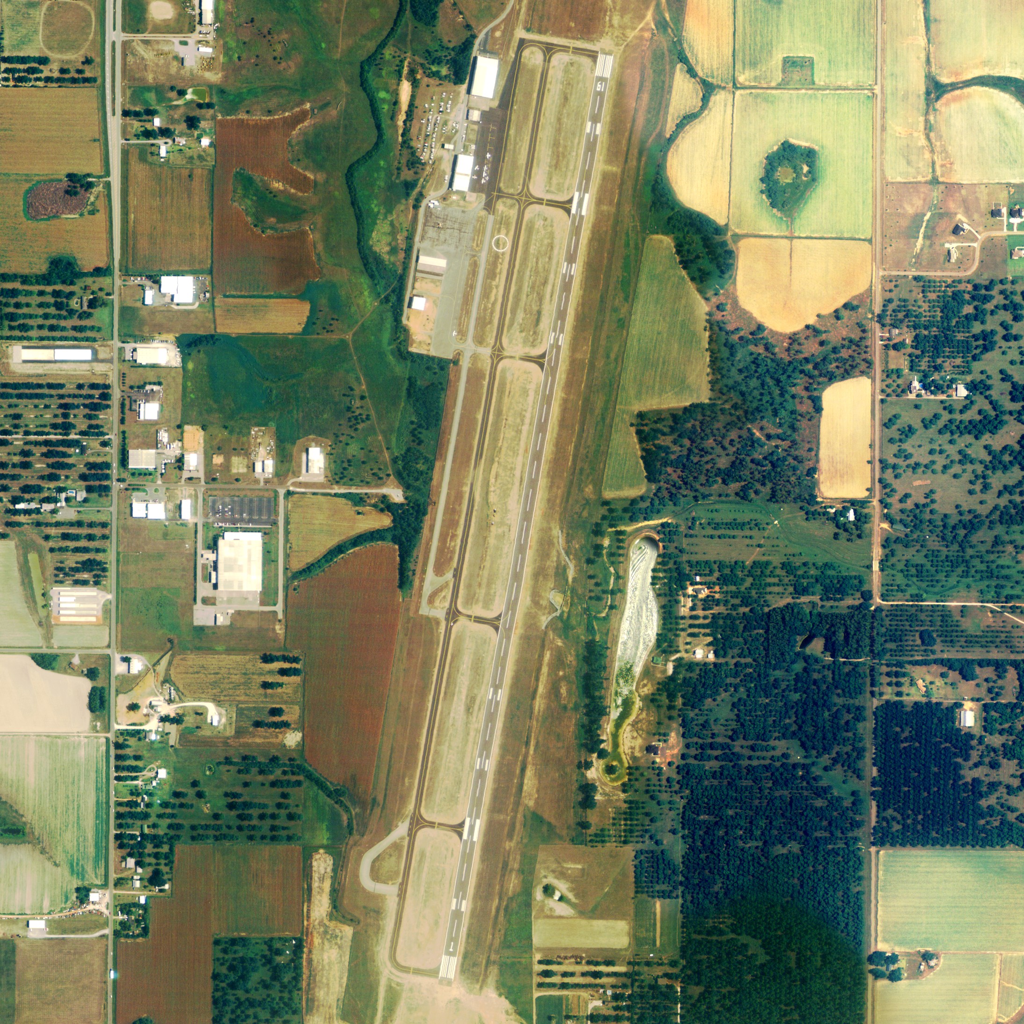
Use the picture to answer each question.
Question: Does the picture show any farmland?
Yes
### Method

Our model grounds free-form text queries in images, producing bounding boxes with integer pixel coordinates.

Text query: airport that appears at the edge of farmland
[360,38,613,988]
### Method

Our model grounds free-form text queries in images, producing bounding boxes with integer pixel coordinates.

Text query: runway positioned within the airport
[439,51,613,983]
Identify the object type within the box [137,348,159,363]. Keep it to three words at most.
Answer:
building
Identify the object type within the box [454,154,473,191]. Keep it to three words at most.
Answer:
hangar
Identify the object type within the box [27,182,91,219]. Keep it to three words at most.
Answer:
pond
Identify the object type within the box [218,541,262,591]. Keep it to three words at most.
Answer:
building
